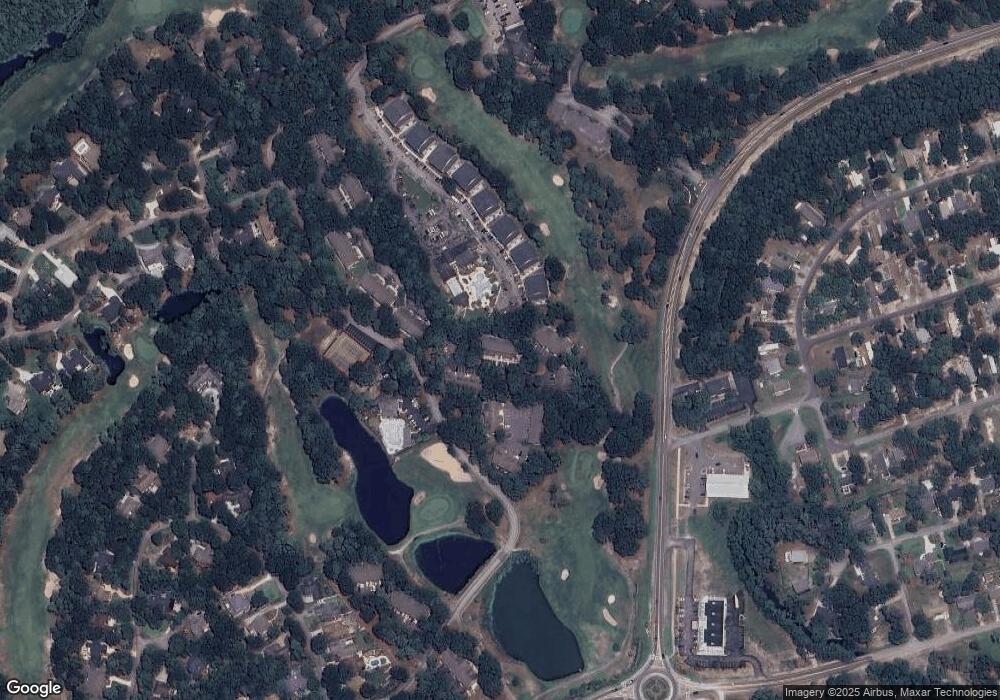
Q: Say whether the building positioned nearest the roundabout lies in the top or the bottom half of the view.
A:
bottom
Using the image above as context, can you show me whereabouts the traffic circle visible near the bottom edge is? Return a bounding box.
[632,665,682,700]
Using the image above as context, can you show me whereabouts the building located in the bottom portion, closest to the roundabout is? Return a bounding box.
[691,596,727,655]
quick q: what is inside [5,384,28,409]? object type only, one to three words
house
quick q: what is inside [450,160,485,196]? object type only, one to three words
house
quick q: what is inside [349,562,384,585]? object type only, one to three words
building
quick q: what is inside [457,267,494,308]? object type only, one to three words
swimming pool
